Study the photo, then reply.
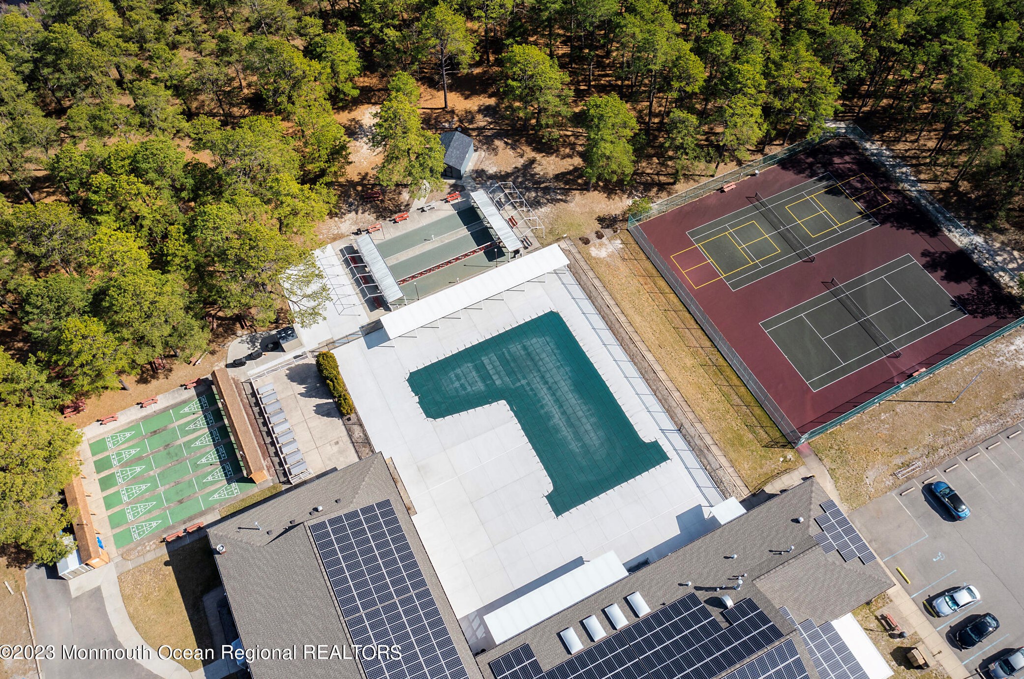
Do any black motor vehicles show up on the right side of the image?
Yes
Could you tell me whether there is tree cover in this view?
Yes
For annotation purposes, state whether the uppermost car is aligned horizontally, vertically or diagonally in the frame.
diagonally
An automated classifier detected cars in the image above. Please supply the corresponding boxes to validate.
[960,611,1005,646]
[990,643,1024,679]
[934,580,980,615]
[932,478,974,519]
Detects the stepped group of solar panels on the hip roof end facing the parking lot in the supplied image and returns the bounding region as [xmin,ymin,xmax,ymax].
[814,499,878,564]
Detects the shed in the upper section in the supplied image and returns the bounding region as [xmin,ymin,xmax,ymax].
[438,134,474,179]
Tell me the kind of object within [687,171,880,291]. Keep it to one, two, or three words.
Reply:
tennis court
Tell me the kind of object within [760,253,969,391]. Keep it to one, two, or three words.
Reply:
tennis court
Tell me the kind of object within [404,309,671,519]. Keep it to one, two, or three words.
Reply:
swimming pool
